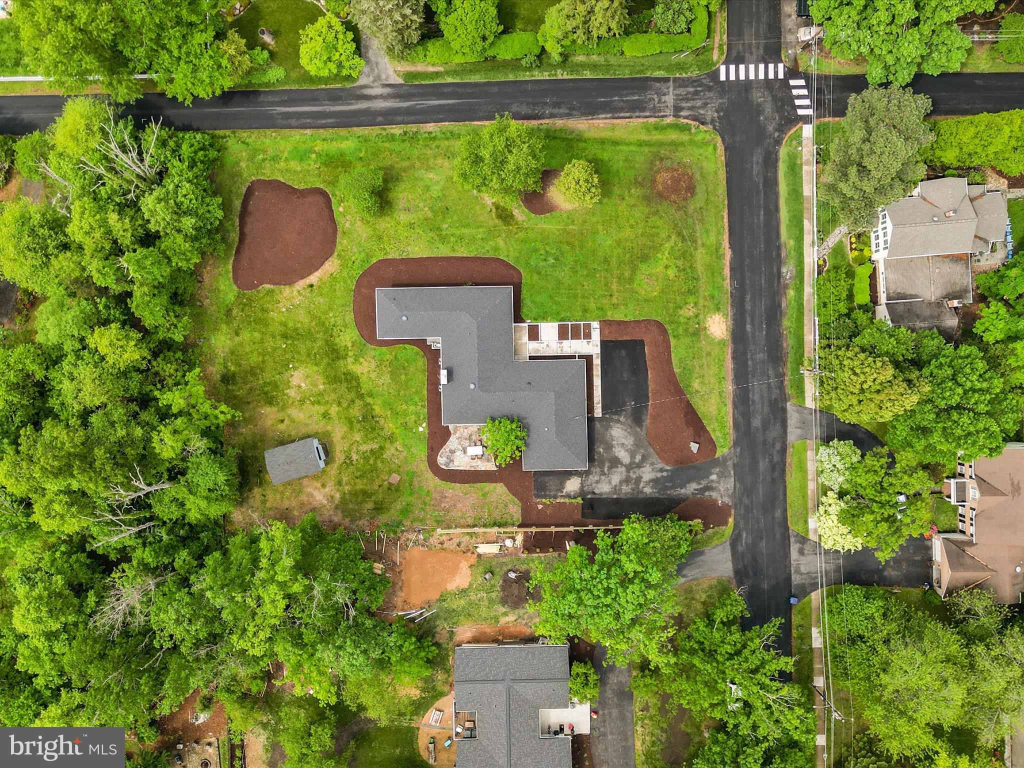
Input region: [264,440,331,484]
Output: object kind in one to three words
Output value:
shed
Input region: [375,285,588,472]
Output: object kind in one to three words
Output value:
house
